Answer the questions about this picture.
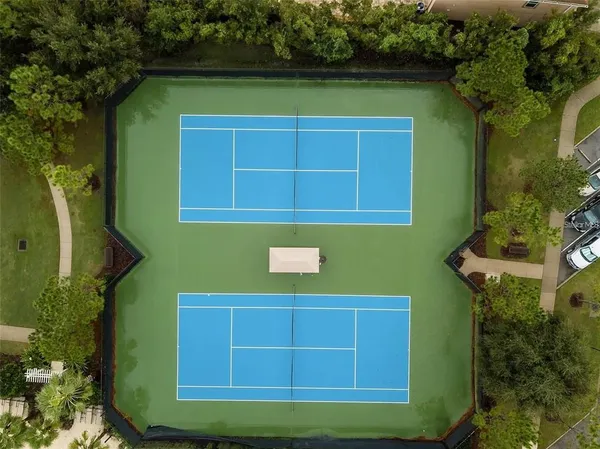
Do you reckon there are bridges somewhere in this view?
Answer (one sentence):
No, the frame has no bridge in it.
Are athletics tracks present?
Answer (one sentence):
No, the photo shows no athletics track.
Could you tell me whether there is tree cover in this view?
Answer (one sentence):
Yes, there is tree cover in the image.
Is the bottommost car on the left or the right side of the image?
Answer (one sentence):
The bottommost car sits on the right side.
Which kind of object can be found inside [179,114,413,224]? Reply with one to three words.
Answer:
tennis court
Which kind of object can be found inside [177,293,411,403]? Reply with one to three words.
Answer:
tennis court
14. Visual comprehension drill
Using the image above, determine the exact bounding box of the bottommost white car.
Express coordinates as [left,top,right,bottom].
[563,227,600,269]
